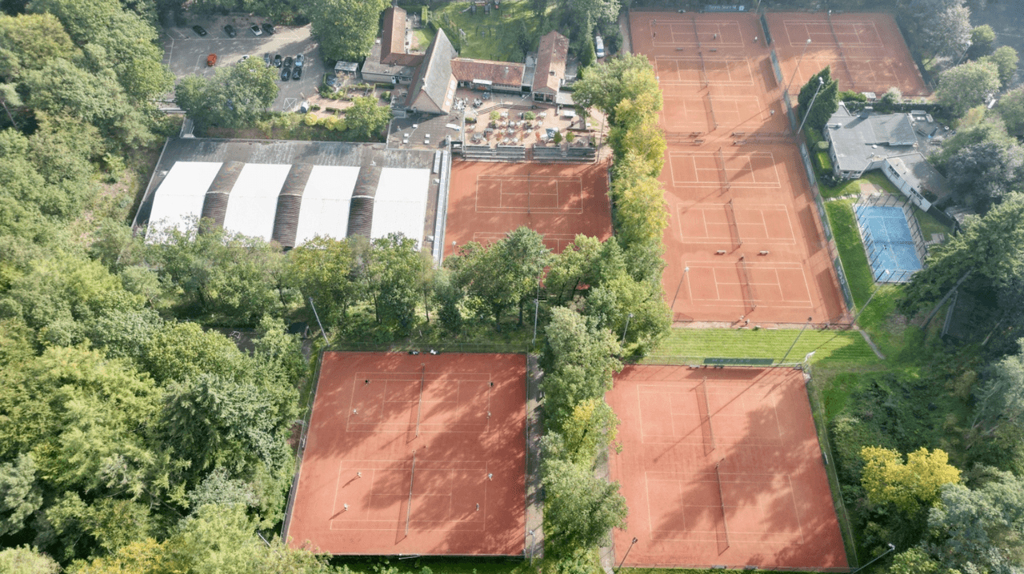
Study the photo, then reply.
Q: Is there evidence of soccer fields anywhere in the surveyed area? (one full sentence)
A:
No, there isn't any soccer field down there.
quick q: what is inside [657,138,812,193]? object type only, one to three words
tennis court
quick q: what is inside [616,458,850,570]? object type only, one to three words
tennis court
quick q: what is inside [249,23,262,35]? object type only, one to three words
vehicle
